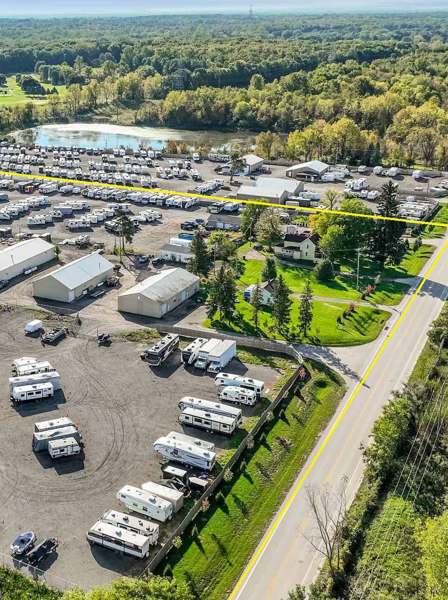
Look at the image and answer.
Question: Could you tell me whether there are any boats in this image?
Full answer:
Yes, you can see a boat in this photo.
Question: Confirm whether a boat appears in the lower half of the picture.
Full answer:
Yes, in the lower half of the picture there is a boat.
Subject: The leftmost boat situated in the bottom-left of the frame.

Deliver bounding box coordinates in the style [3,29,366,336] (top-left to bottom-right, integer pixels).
[9,524,38,550]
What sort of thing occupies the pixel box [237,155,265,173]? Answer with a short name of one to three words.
building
